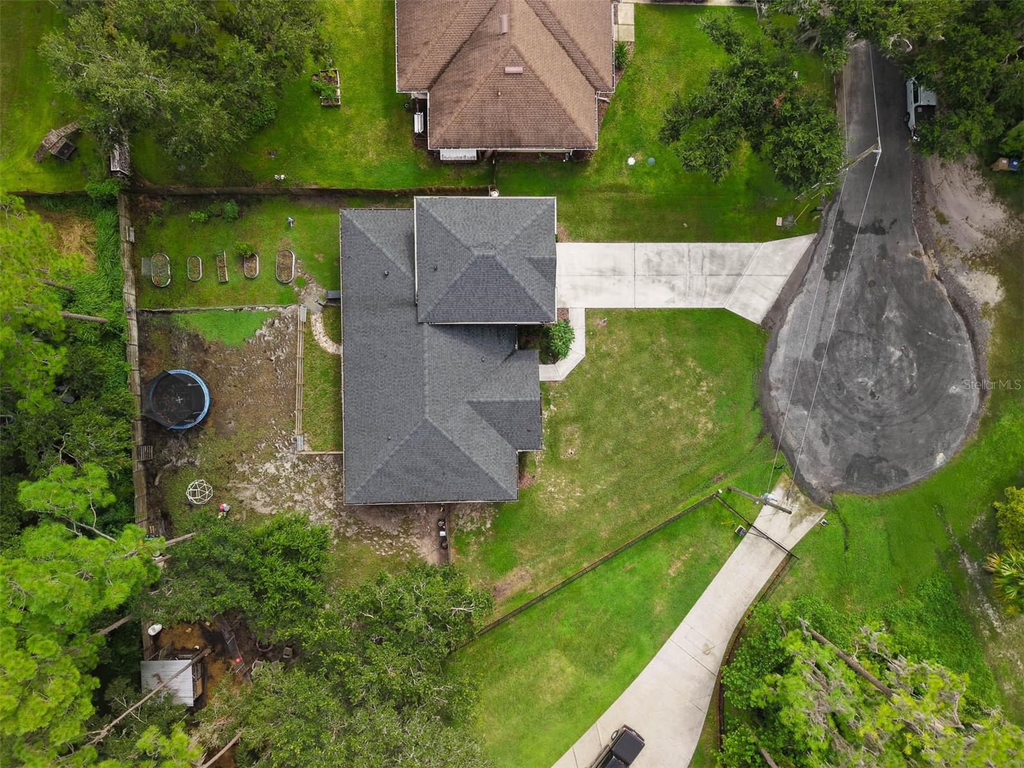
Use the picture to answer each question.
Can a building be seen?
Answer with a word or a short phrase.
Yes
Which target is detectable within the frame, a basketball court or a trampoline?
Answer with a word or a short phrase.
trampoline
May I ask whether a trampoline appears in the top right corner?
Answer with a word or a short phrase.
No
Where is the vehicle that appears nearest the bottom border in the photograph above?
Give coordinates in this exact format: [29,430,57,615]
[591,722,645,768]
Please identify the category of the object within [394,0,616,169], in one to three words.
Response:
house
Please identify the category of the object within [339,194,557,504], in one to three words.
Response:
house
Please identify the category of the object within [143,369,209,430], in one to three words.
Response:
trampoline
